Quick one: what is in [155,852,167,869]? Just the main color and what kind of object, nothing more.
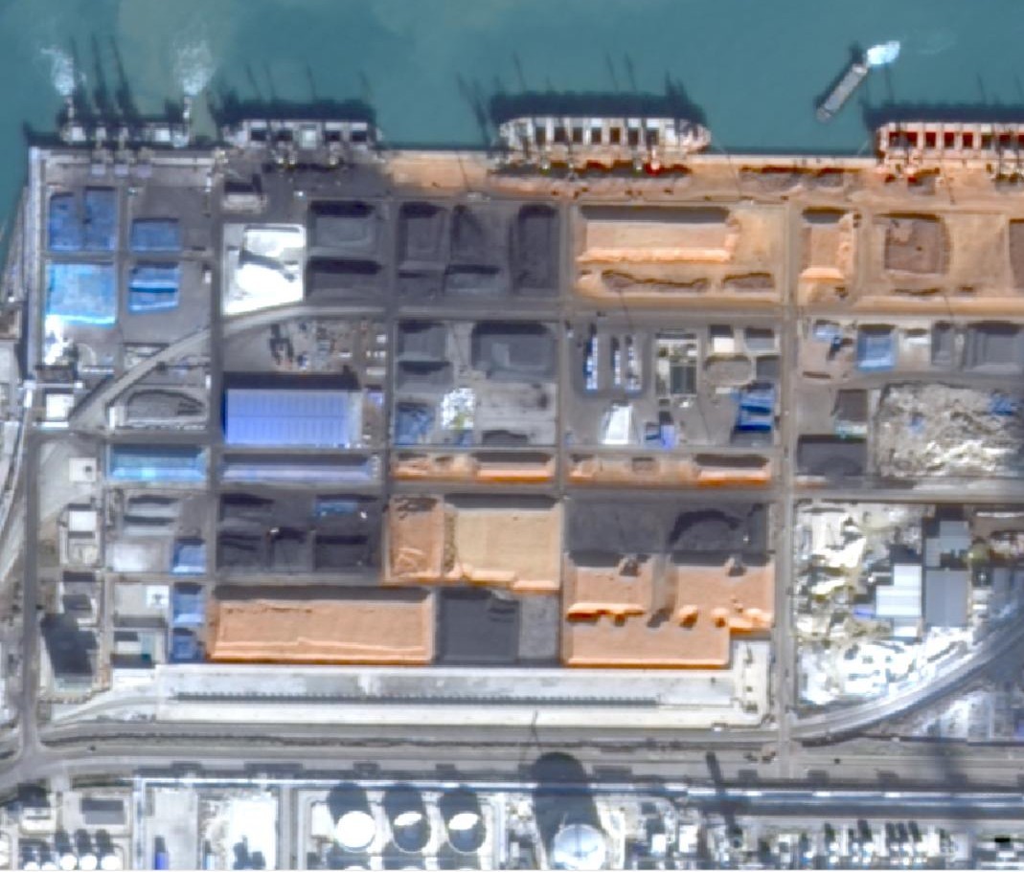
blue vehicle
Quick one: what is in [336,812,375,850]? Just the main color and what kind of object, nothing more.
white storage tank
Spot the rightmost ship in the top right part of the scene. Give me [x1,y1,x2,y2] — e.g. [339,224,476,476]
[877,119,1024,154]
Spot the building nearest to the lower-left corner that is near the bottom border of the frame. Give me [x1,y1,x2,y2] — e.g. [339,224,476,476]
[23,810,55,832]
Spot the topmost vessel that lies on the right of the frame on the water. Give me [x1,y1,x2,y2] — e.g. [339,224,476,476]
[820,56,870,114]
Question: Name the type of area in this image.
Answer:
port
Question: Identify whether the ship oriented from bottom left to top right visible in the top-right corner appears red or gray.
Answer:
gray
